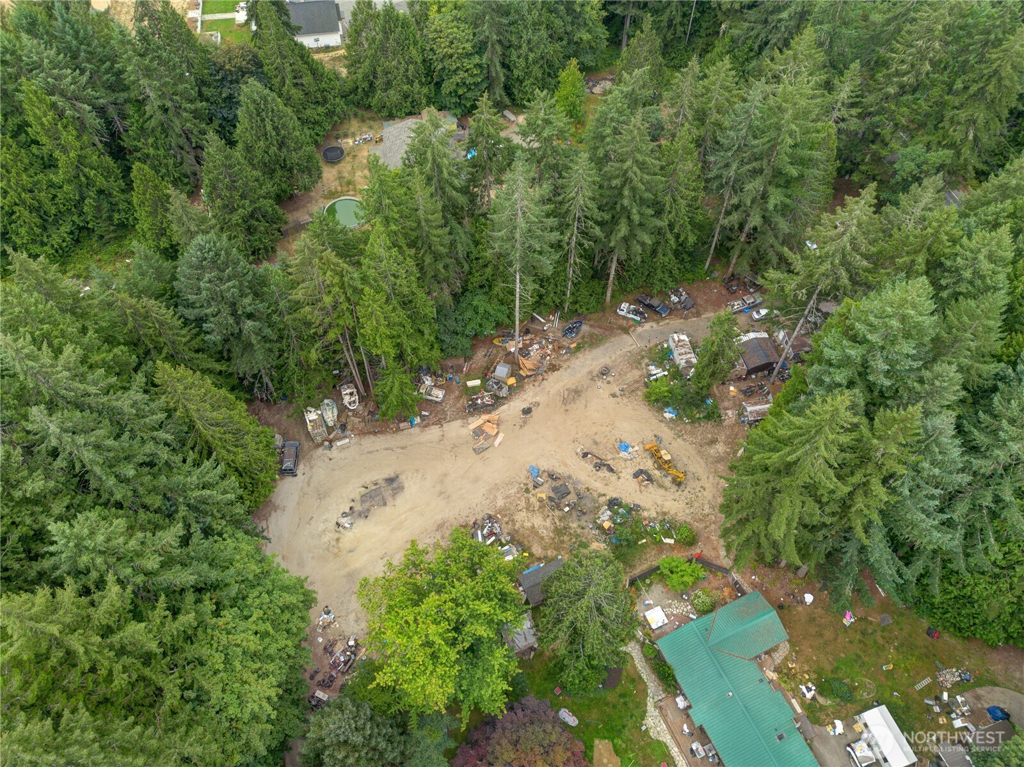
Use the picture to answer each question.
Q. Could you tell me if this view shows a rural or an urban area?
rural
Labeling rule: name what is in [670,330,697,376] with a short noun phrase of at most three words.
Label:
trailer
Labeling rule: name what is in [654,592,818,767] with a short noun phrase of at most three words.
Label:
building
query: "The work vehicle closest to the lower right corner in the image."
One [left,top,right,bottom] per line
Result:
[639,441,693,490]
